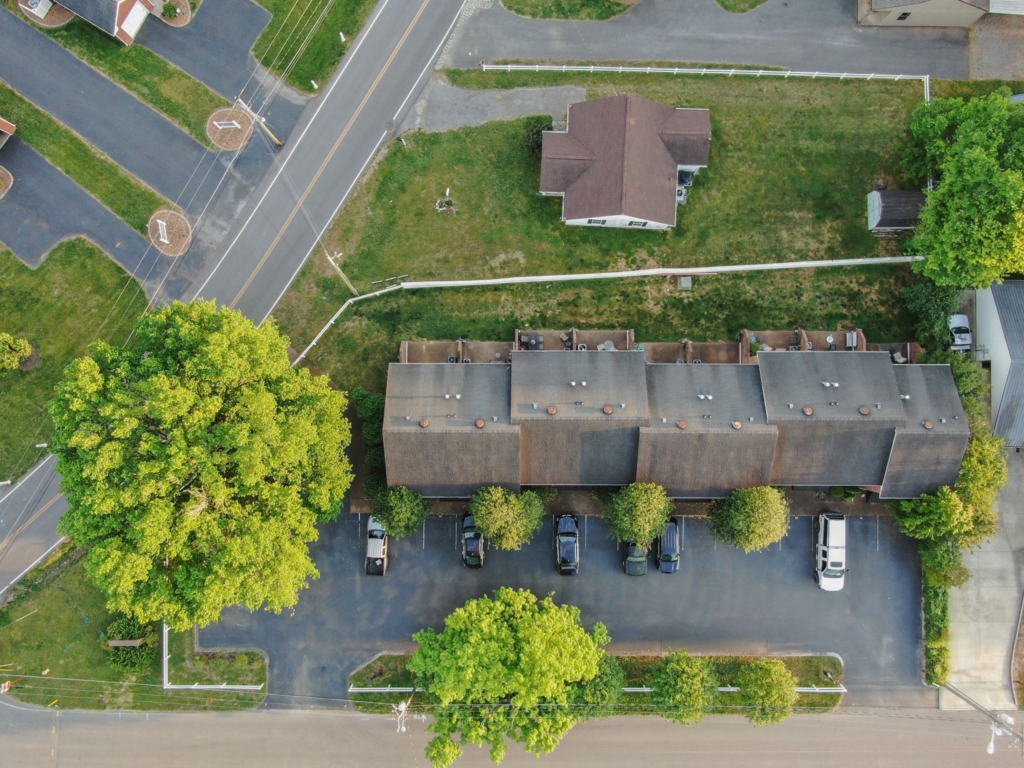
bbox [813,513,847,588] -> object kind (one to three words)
car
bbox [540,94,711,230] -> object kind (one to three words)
house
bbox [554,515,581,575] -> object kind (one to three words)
car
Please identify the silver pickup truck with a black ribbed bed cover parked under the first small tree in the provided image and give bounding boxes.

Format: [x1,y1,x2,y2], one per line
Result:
[365,514,393,576]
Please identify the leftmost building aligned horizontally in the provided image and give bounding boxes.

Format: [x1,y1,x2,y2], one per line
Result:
[51,0,155,45]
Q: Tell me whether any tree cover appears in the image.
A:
Yes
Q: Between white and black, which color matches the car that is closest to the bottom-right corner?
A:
white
